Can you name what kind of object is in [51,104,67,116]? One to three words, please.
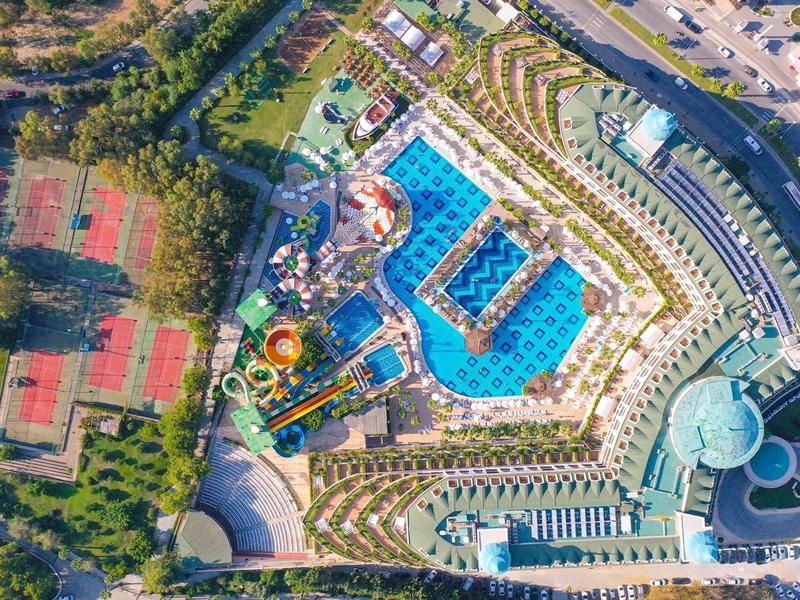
vehicle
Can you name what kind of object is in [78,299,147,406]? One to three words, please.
tennis court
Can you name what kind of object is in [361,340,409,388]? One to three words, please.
swimming pool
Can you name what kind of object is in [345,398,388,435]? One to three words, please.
shed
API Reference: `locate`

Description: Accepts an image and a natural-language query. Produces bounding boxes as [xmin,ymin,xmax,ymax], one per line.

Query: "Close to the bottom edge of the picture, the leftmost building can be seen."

[176,511,234,571]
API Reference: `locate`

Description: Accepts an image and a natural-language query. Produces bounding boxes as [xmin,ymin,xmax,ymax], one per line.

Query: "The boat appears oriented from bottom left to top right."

[355,88,399,140]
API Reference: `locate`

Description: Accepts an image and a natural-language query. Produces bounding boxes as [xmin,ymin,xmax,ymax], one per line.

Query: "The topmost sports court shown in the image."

[280,17,330,71]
